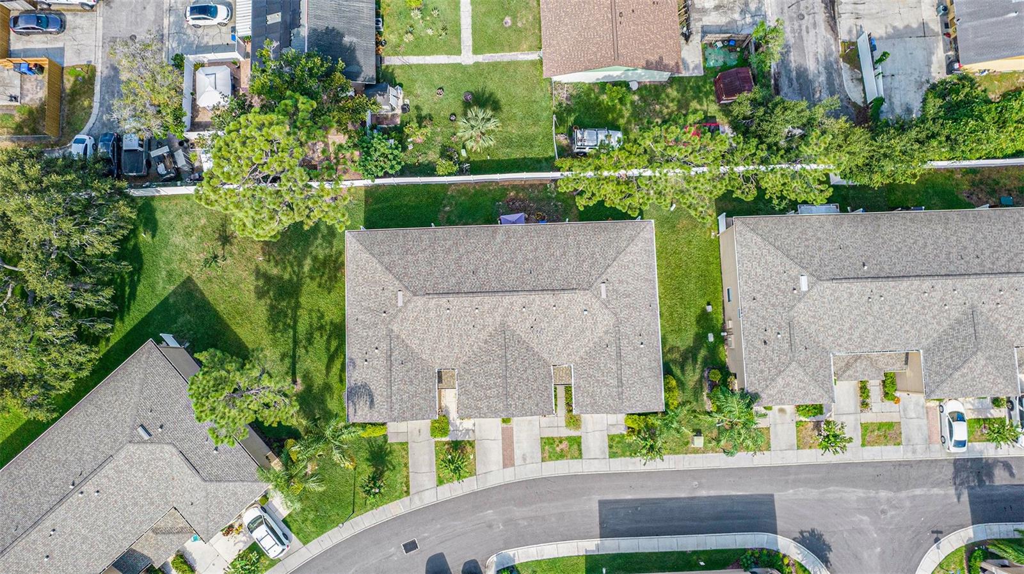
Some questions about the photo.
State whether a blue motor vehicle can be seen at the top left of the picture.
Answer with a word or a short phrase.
Yes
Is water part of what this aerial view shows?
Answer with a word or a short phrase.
No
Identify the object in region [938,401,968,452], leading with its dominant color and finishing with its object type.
white car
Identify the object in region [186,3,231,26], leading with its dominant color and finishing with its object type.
white car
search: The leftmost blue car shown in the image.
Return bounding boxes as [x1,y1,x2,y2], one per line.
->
[10,11,64,36]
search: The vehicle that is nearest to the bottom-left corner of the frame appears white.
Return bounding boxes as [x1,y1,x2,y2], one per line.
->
[245,505,289,559]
